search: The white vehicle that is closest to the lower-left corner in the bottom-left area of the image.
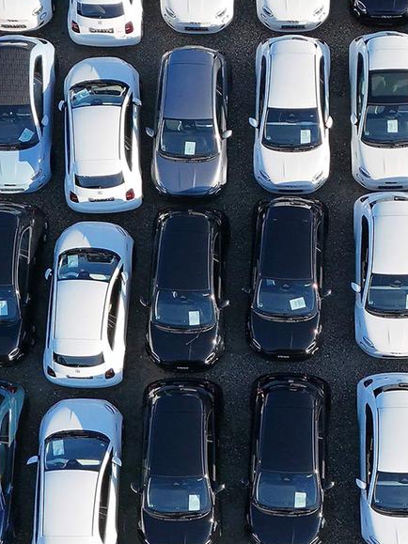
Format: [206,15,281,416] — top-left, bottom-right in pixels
[24,399,122,544]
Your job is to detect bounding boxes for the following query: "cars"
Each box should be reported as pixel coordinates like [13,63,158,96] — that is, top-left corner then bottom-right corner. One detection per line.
[53,58,143,215]
[349,0,408,27]
[0,380,28,544]
[247,34,337,194]
[238,372,336,544]
[0,34,56,193]
[24,399,122,544]
[142,40,233,201]
[39,221,133,389]
[128,377,227,544]
[347,31,408,189]
[67,0,143,47]
[355,372,408,544]
[257,0,329,34]
[352,189,408,358]
[161,0,234,35]
[139,204,233,375]
[0,199,47,368]
[0,0,53,34]
[241,193,336,362]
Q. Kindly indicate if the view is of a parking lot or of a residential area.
parking lot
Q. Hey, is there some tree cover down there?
No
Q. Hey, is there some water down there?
No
